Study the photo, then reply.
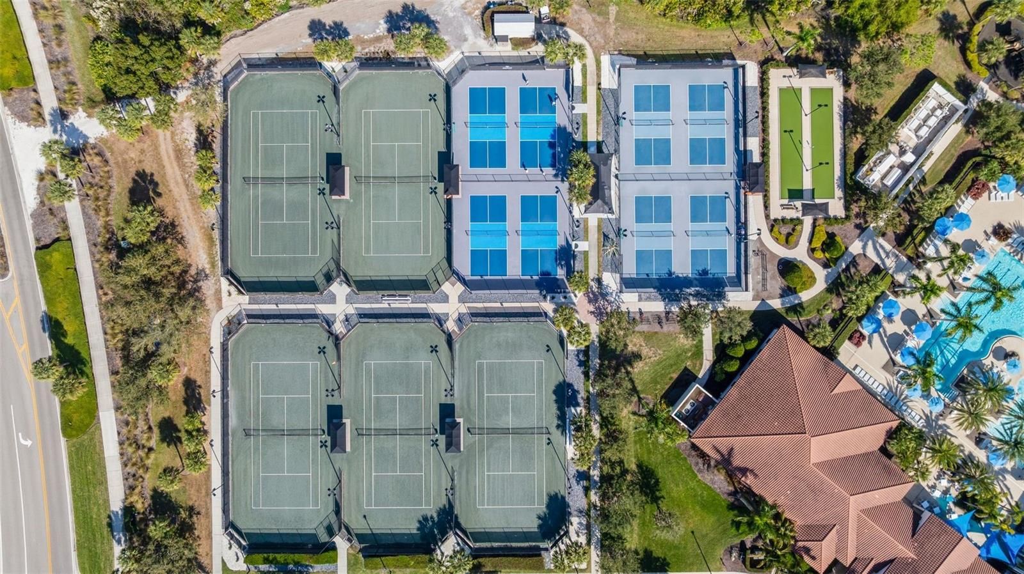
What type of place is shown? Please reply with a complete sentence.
This image shows a sports ground.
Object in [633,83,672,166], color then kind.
blue sports court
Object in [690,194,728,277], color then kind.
blue sports court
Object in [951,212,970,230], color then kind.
blue umbrella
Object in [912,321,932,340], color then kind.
blue umbrella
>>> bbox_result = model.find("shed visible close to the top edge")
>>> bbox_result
[494,9,534,40]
